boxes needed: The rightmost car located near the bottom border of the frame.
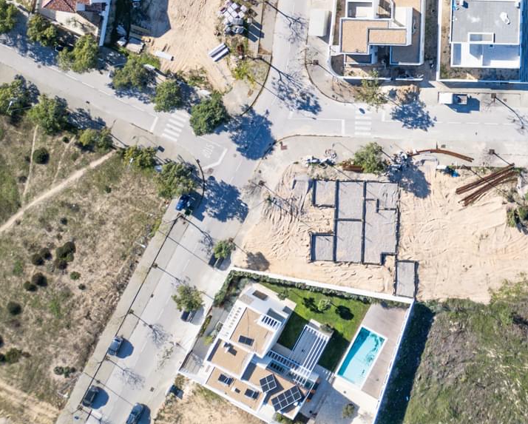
[128,402,147,424]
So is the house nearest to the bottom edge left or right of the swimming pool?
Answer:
on the left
